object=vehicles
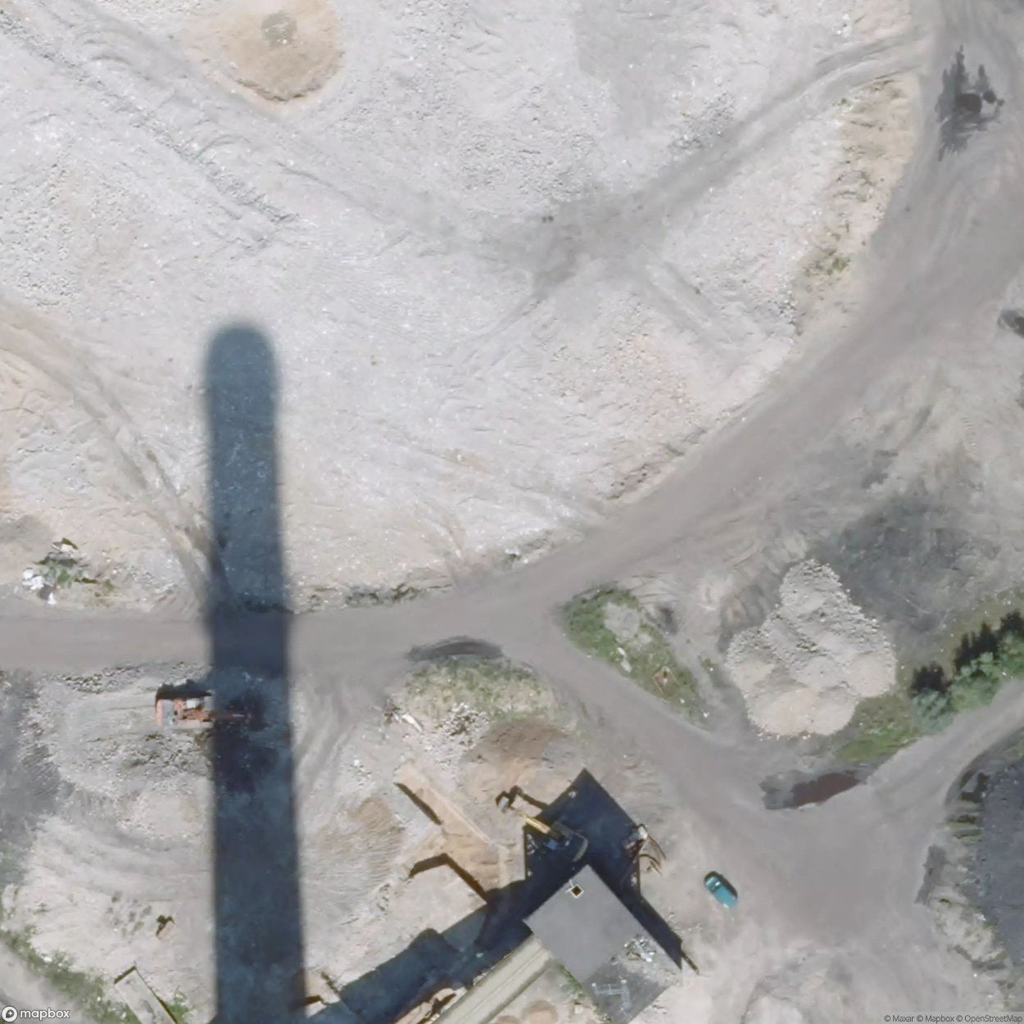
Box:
[156,697,246,727]
[498,796,589,863]
[703,874,736,910]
